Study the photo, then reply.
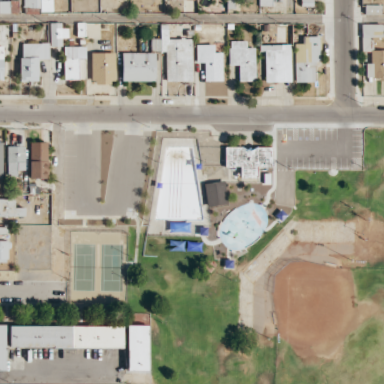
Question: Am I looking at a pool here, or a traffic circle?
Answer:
pool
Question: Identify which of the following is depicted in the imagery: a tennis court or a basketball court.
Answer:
tennis court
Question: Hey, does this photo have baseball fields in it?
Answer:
Yes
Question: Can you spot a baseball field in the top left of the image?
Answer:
No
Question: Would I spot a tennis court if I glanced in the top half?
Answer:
No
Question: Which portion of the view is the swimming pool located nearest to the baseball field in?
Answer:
center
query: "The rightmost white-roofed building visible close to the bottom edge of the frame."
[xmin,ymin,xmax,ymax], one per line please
[128,326,151,371]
